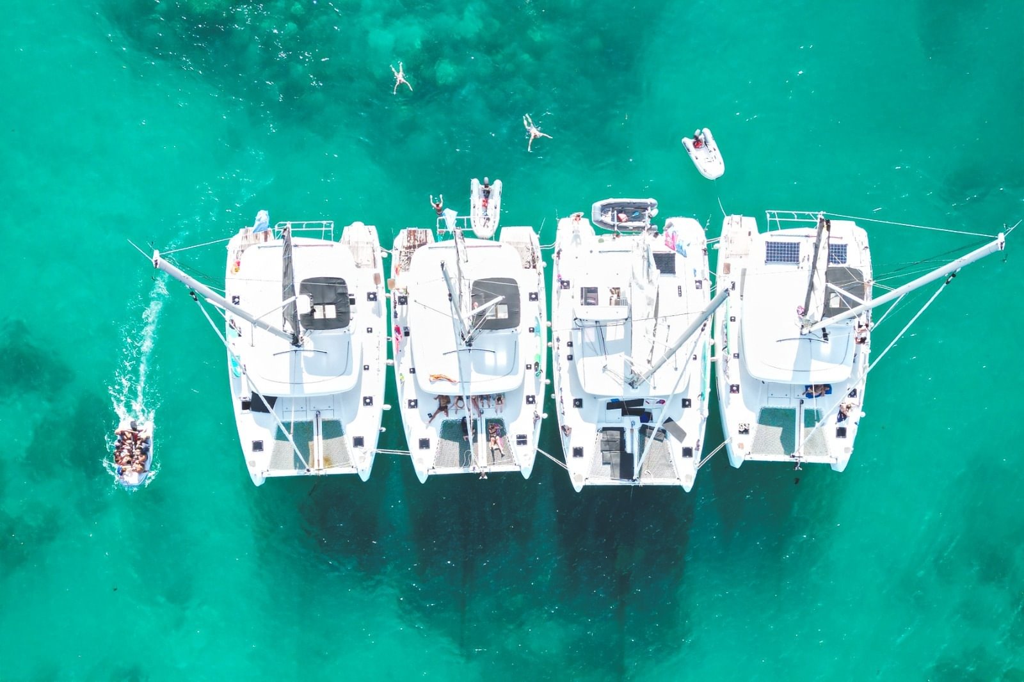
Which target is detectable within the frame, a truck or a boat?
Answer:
boat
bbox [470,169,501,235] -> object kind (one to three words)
boat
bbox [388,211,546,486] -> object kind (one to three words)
boat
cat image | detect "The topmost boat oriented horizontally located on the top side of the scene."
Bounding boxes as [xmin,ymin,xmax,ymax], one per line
[593,198,665,230]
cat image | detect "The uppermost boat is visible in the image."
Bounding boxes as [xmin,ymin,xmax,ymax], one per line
[681,121,724,176]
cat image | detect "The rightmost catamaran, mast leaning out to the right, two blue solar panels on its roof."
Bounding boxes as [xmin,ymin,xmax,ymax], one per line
[711,202,1024,476]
